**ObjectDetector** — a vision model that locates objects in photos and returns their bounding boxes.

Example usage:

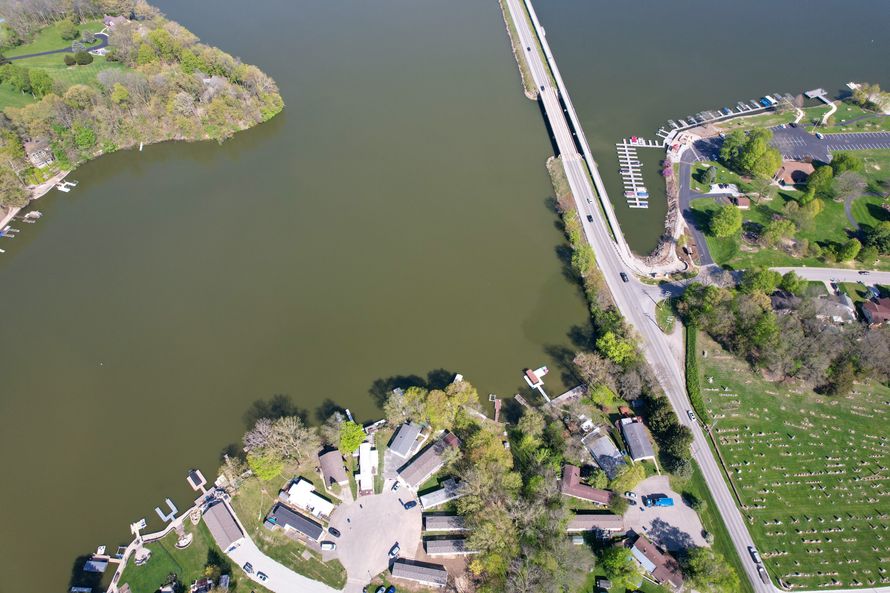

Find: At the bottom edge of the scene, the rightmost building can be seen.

[630,536,683,588]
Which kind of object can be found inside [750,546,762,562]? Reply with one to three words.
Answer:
vehicle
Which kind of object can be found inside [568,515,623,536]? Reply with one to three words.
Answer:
house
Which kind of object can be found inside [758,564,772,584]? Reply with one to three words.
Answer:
vehicle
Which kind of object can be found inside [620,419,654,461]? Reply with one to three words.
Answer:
house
